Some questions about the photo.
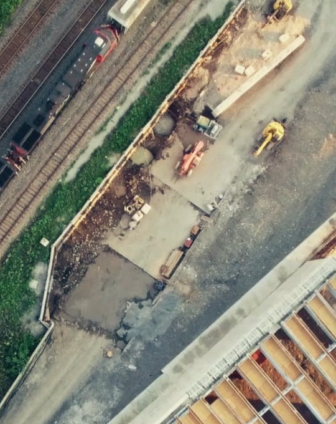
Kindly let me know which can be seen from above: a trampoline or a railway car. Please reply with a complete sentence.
Visible in the photo is a railway car.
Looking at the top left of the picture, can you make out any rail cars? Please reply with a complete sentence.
Yes, a rail car shows up at the top left of the picture.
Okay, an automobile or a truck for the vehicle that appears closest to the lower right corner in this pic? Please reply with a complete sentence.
It turns out the vehicle that appears closest to the lower right corner is a truck.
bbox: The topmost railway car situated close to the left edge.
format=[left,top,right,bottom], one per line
[10,18,121,160]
